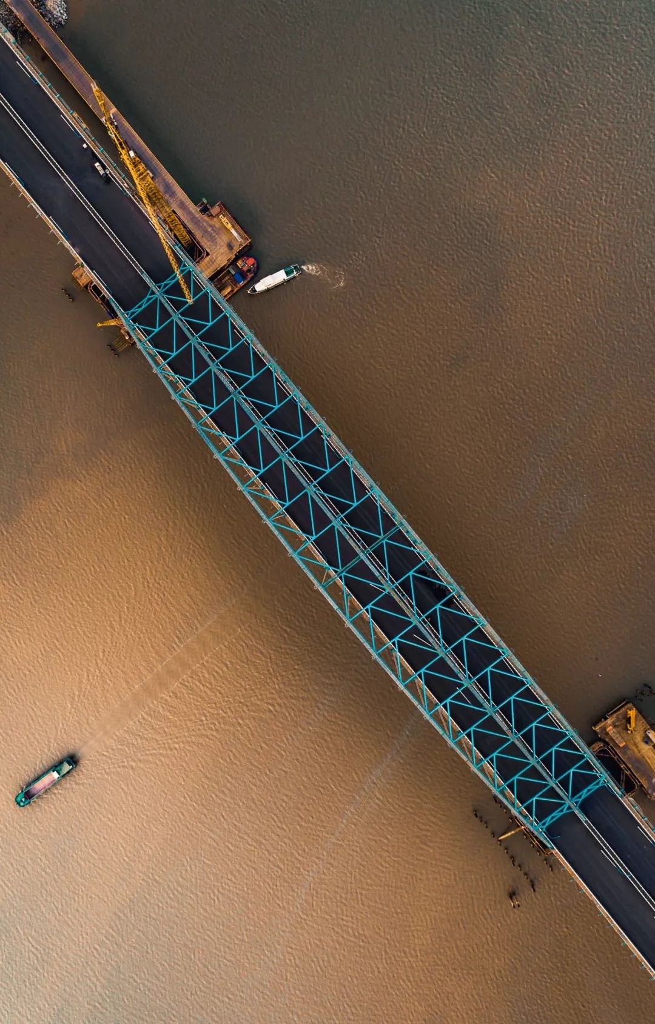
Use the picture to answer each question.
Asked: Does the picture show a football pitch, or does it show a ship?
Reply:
ship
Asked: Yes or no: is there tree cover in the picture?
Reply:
No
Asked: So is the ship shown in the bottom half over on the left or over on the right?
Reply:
left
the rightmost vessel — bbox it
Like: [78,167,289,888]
[248,262,304,294]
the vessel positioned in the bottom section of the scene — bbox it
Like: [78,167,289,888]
[15,753,81,807]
